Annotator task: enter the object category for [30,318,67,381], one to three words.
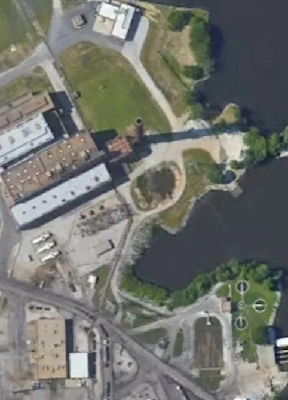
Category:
building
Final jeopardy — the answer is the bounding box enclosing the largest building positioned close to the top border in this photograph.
[93,2,134,41]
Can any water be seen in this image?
Yes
